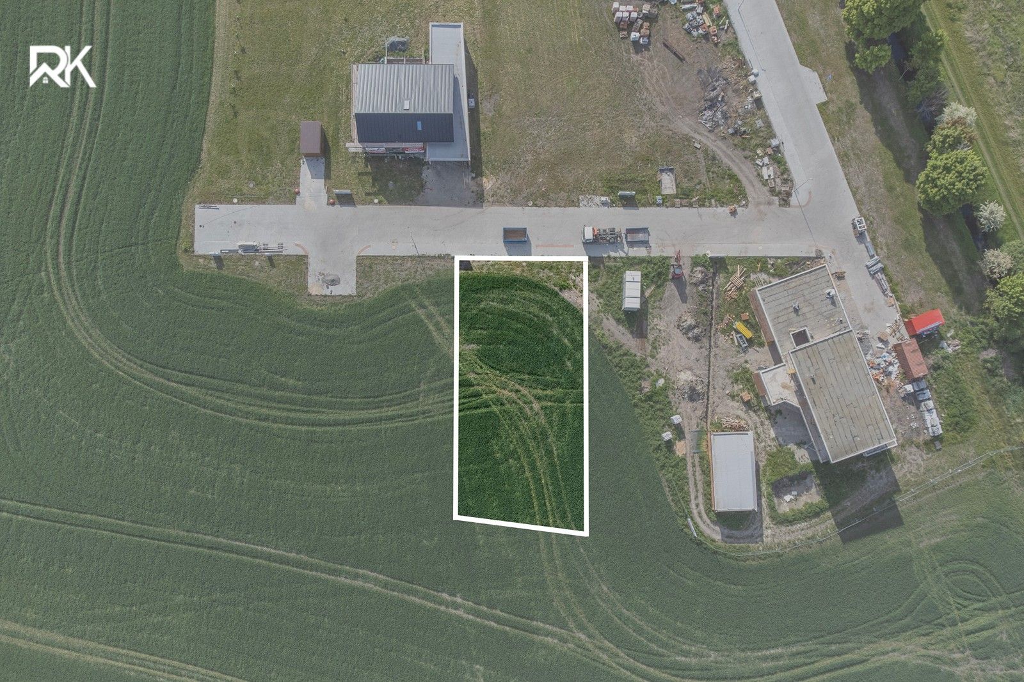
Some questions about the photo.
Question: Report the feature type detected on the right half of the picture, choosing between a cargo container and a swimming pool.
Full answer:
What appears on the right half of the picture is a cargo container.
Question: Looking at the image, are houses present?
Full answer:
Yes, a house can be made out from above.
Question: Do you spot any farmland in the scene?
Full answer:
Yes, there is farmland in the image.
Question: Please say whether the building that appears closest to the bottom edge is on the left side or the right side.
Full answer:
It is on the right.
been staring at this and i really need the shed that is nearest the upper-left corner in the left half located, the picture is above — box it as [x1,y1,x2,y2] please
[300,121,325,159]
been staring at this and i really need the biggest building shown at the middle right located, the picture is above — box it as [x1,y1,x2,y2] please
[748,265,897,463]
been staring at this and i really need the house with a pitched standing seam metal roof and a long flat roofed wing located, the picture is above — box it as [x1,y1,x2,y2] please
[354,23,472,168]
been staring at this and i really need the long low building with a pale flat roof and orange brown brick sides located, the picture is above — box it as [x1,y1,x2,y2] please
[706,428,757,513]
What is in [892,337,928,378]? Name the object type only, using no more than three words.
shipping container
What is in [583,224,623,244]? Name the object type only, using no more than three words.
vehicle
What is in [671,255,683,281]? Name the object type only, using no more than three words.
vehicle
